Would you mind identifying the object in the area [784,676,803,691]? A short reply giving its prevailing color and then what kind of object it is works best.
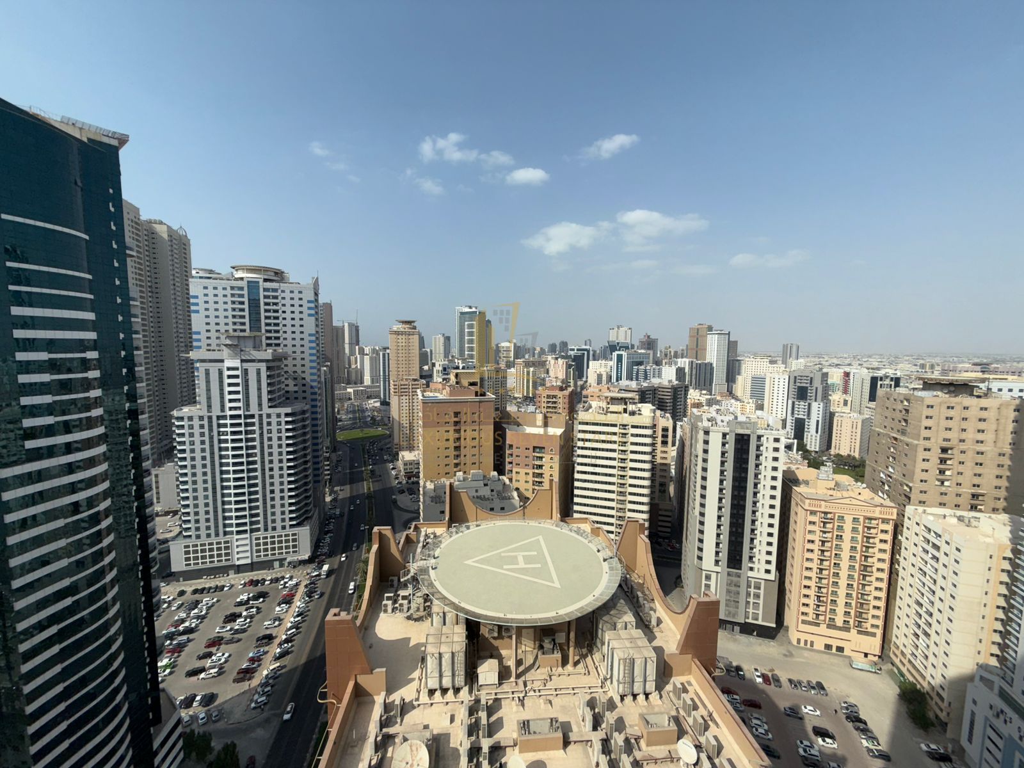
gray car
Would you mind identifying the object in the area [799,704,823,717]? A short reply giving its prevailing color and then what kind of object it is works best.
white vehicle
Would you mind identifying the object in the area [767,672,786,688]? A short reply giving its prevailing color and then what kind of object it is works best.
gray car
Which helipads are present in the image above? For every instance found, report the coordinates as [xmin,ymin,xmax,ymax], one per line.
[418,510,625,687]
